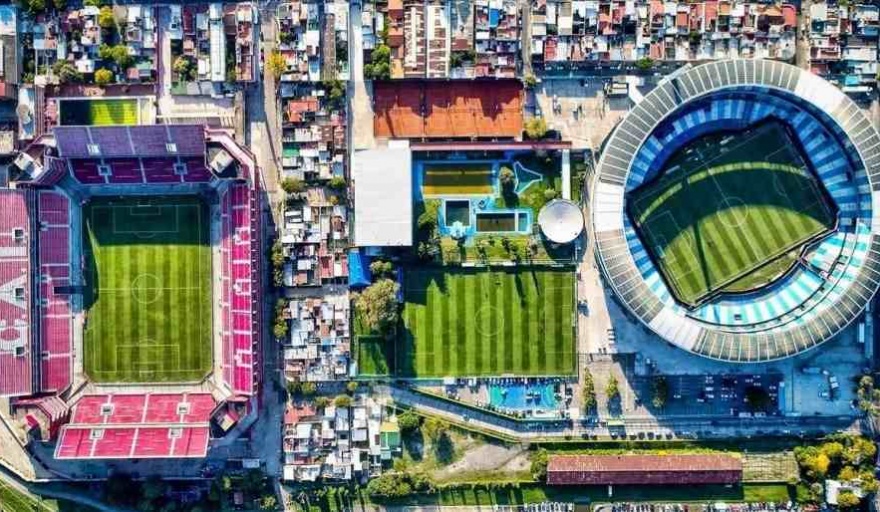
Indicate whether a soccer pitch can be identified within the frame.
Yes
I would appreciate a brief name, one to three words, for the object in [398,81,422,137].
tennis court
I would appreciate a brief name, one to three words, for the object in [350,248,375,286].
shed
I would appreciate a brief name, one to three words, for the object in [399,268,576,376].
soccer field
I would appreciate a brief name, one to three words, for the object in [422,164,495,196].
swimming pool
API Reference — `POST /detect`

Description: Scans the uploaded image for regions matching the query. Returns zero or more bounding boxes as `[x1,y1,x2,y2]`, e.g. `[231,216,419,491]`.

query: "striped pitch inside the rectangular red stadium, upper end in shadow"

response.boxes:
[83,197,211,383]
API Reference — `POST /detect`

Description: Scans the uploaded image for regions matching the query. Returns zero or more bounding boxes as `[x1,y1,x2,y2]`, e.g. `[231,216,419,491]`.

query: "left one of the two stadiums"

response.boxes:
[0,125,267,459]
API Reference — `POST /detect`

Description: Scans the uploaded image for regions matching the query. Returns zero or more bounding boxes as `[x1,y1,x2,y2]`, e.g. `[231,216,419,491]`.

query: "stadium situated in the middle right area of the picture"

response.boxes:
[584,54,880,361]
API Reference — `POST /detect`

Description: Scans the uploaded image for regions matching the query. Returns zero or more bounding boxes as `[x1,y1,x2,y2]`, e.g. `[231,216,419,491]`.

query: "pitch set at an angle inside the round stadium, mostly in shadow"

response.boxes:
[630,120,830,305]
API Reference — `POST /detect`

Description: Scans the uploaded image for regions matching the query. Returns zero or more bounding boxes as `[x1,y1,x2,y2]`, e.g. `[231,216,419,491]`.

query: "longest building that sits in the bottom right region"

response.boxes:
[547,453,745,498]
